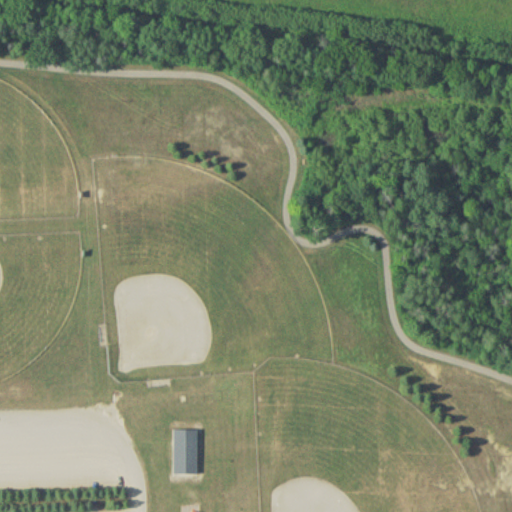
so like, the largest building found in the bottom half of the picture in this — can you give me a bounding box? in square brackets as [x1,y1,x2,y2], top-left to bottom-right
[173,430,198,474]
